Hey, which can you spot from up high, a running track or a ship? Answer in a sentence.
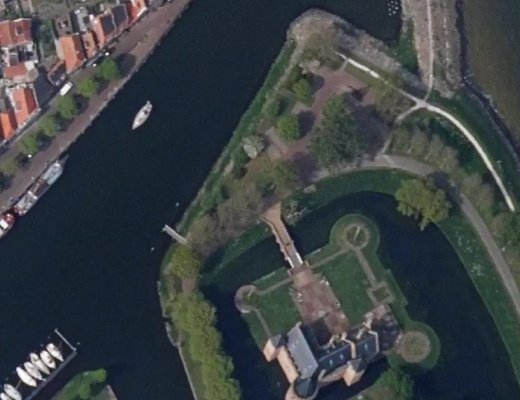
It is a ship that can be seen here.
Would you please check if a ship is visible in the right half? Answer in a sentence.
No, no ship appears in the right half.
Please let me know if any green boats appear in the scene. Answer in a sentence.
No, no green boat can be seen from above.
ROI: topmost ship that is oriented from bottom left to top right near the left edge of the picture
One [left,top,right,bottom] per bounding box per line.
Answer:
[12,155,69,216]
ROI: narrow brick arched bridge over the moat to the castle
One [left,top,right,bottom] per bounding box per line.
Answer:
[269,215,303,269]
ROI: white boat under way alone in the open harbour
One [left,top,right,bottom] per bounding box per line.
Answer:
[133,100,152,129]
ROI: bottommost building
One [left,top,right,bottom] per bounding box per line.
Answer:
[264,322,378,400]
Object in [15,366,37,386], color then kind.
white boat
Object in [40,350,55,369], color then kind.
white boat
